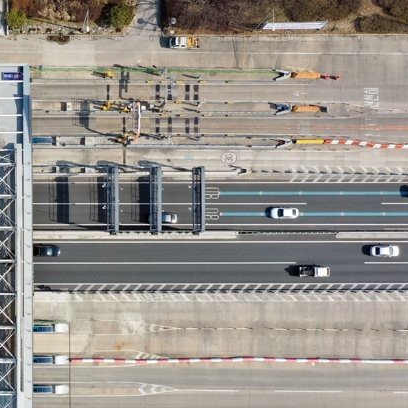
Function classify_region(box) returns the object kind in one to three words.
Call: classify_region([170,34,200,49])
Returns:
vehicle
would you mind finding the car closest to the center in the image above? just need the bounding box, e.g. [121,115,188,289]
[161,212,178,224]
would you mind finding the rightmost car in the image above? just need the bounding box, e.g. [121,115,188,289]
[369,244,398,258]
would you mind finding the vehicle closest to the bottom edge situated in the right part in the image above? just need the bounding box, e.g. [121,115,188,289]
[299,264,330,278]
